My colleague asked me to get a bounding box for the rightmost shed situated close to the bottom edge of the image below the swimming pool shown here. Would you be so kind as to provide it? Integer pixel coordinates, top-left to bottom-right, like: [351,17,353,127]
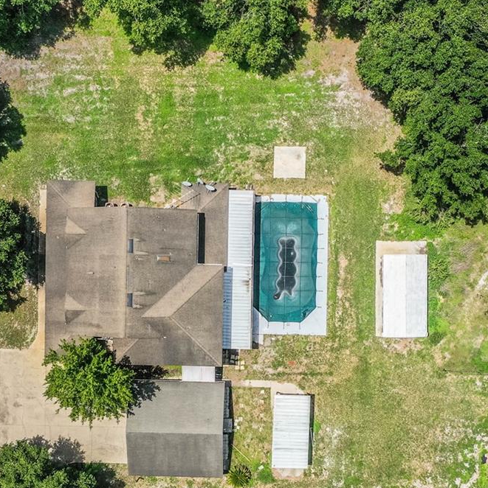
[271,393,310,470]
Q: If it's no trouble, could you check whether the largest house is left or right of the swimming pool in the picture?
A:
to its left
